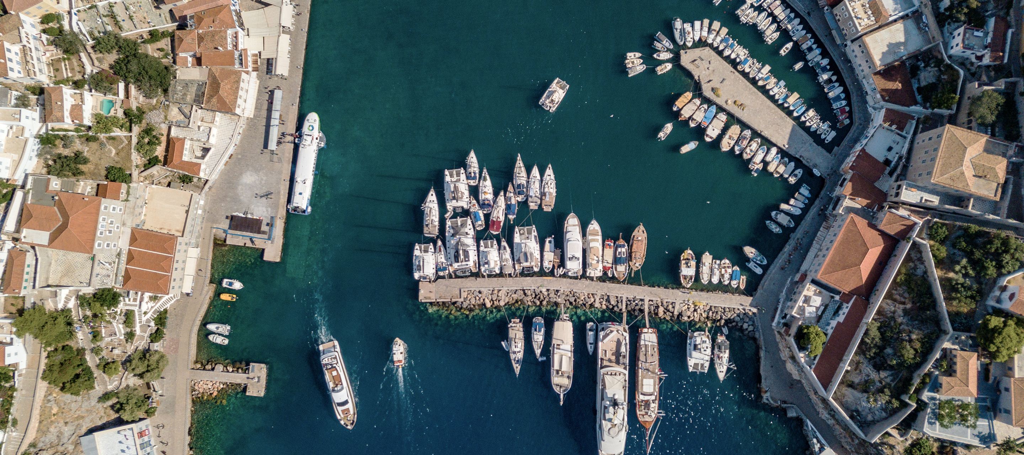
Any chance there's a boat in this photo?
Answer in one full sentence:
Yes, this view includes a boat.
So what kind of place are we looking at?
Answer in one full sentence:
The picture captures a residential area.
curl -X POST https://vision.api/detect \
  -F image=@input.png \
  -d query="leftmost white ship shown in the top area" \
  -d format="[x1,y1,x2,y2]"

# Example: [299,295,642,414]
[287,111,328,216]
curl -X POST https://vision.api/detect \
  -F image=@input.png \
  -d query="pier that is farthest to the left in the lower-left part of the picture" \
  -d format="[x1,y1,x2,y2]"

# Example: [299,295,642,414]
[188,362,268,397]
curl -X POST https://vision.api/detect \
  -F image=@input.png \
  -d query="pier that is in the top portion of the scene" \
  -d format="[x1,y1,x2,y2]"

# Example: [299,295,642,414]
[680,47,836,179]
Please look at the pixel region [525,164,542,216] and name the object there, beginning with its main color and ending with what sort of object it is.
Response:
white boat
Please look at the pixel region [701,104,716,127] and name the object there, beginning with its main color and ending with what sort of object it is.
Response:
blue boat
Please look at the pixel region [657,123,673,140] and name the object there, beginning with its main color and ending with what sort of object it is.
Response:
white boat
